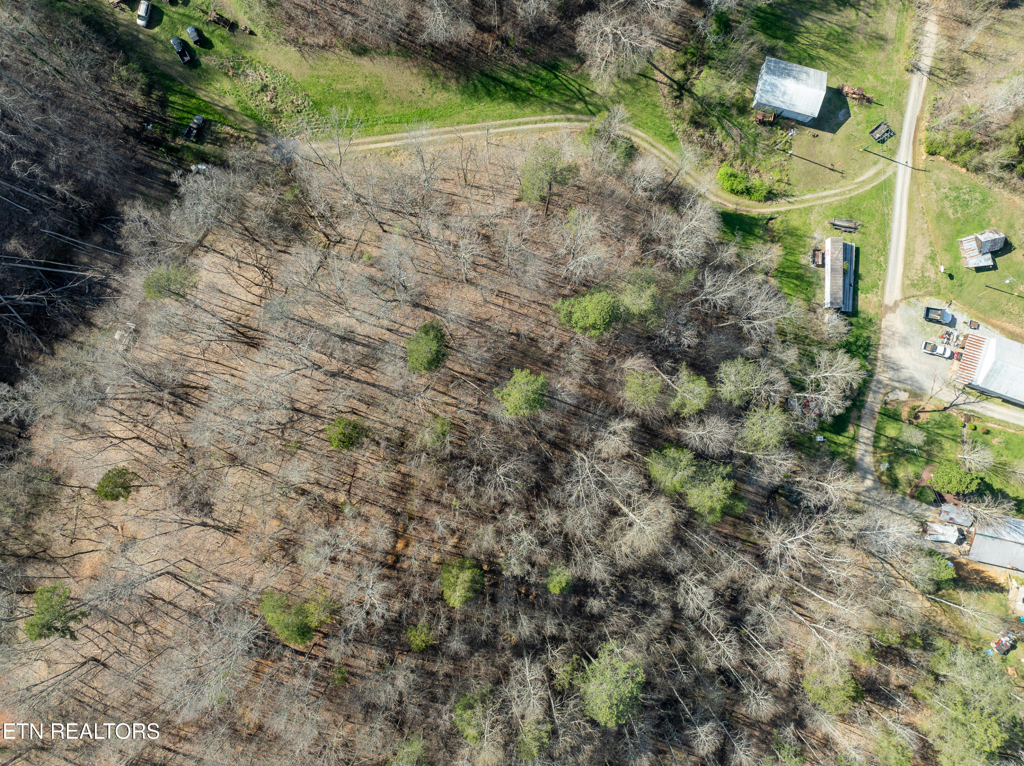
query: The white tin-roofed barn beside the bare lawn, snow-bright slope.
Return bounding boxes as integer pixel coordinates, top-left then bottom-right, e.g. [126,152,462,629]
[752,57,828,122]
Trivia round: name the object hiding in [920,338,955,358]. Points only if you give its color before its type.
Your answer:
white vehicle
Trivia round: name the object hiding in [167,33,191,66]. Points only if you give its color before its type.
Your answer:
black truck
